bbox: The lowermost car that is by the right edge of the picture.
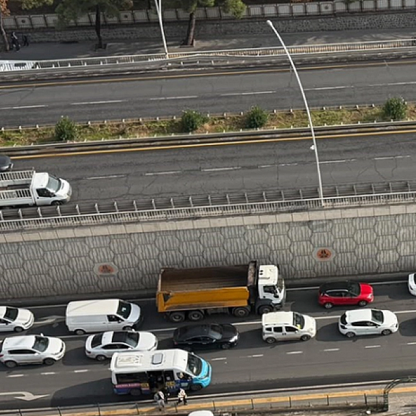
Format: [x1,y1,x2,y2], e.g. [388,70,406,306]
[339,308,399,339]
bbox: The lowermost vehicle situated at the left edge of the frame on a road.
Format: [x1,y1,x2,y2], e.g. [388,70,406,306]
[0,336,64,369]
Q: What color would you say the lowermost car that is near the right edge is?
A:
white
